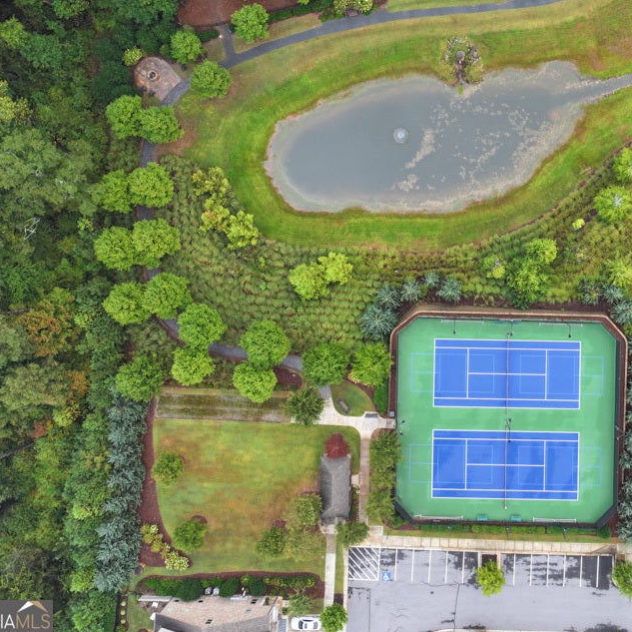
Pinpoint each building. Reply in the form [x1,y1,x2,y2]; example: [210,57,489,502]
[155,594,287,632]
[320,450,353,525]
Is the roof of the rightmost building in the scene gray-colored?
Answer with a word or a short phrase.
Yes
